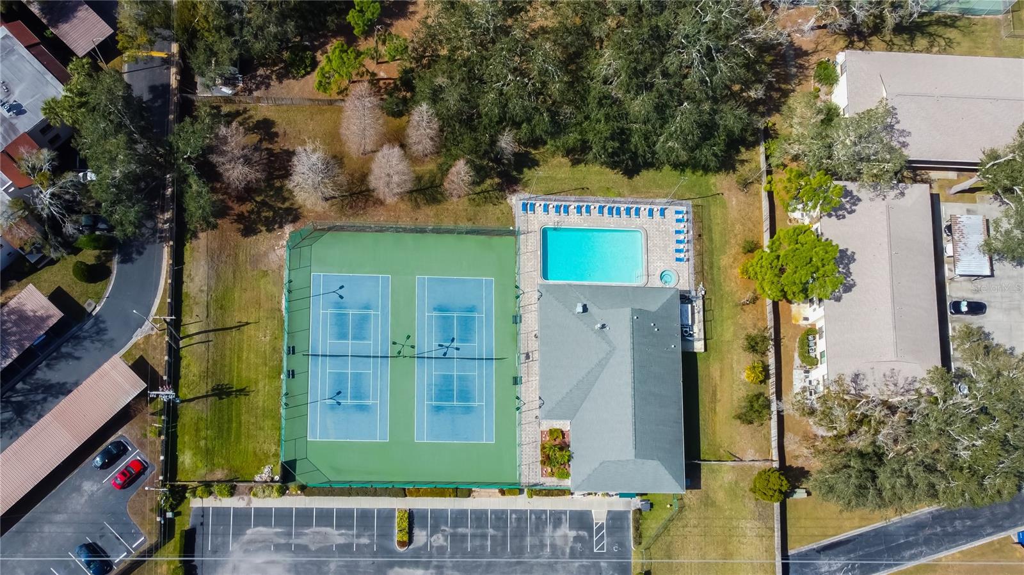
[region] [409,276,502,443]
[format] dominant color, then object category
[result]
blue tennis court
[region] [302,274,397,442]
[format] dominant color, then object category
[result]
blue tennis court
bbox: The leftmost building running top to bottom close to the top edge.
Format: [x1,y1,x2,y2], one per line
[0,20,82,189]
